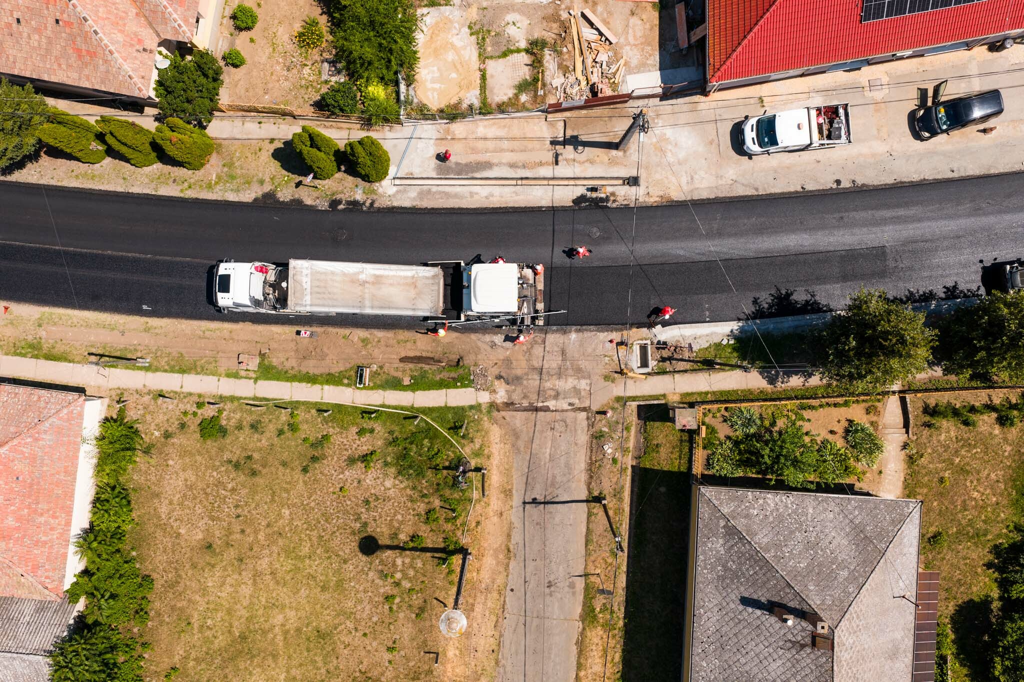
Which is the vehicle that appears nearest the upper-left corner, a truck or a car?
truck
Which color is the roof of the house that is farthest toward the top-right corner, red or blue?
red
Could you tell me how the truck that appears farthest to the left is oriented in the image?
from left to right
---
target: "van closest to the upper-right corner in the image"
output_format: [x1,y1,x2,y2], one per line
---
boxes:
[904,81,1007,146]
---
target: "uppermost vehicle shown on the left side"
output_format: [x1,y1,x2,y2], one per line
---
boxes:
[214,255,448,317]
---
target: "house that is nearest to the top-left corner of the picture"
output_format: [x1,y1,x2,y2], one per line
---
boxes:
[0,0,216,99]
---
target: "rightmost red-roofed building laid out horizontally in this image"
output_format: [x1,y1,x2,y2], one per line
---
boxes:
[700,0,1024,94]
